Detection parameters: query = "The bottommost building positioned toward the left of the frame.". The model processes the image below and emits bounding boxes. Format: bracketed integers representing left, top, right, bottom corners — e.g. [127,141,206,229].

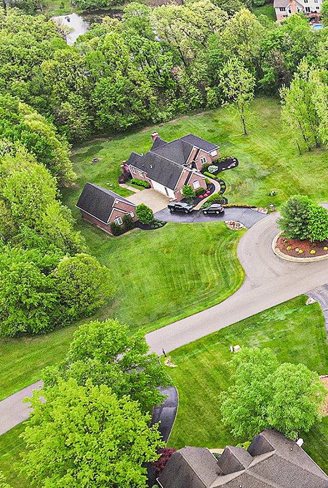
[75,184,139,234]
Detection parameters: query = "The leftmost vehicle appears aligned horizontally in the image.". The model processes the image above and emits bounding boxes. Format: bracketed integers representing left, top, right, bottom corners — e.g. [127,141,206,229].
[163,201,194,214]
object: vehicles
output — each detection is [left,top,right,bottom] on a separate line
[198,203,223,215]
[163,201,194,214]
